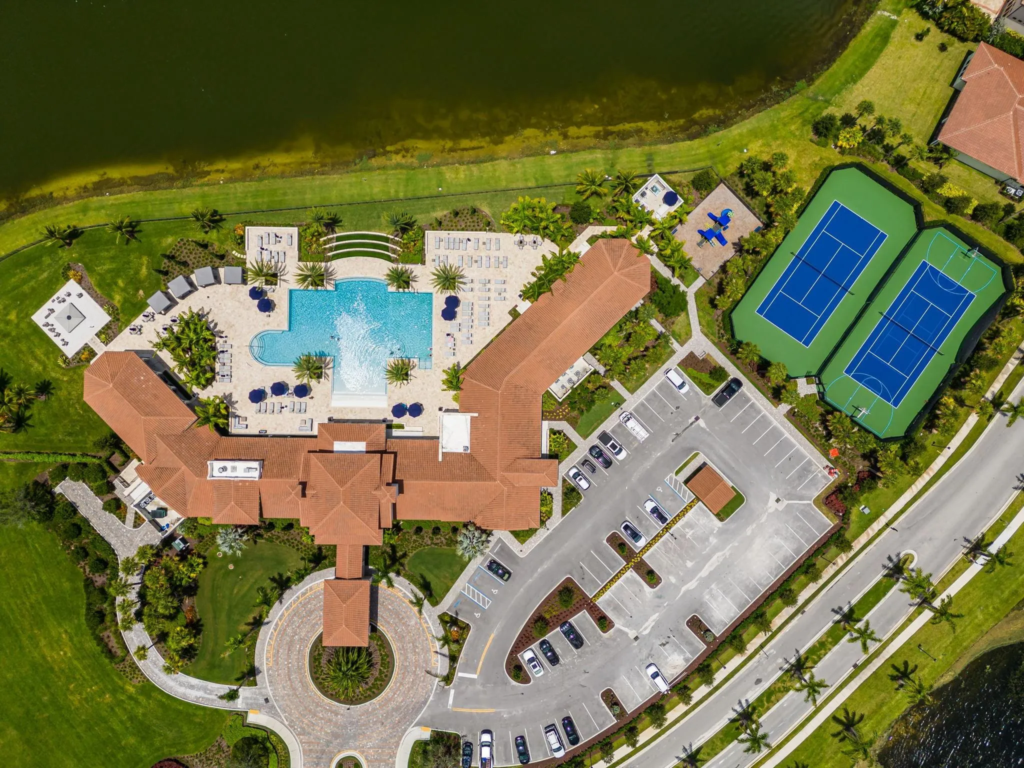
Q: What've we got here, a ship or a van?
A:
van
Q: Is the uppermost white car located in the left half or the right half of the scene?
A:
right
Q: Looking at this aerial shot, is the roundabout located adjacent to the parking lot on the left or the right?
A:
left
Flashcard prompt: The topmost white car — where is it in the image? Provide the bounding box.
[662,367,690,395]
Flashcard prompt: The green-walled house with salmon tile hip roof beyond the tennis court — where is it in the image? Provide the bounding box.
[930,42,1024,193]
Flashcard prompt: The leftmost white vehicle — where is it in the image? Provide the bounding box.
[479,730,494,767]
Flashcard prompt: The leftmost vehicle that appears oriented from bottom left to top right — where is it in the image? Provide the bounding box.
[711,377,743,409]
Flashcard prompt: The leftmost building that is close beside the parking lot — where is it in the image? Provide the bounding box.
[83,238,651,647]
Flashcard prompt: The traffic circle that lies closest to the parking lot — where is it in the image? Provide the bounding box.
[264,575,440,768]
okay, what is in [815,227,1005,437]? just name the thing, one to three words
tennis court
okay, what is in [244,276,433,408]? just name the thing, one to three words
swimming pool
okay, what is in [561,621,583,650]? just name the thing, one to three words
car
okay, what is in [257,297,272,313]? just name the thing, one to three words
umbrella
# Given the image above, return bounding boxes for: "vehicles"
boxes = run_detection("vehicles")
[546,724,564,755]
[524,648,544,677]
[587,444,614,470]
[539,638,561,668]
[461,741,474,768]
[514,733,530,763]
[711,377,743,409]
[487,557,513,583]
[620,520,644,547]
[581,460,596,474]
[567,465,593,492]
[645,662,672,695]
[562,715,579,744]
[479,730,494,767]
[561,621,583,650]
[662,367,690,395]
[643,499,669,526]
[596,430,628,461]
[618,410,653,444]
